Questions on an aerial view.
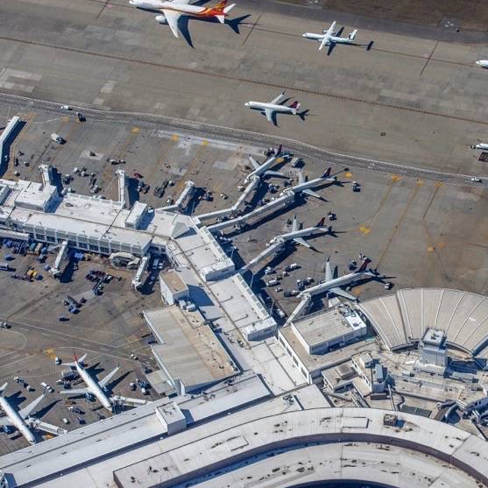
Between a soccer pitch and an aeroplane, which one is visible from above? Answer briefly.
aeroplane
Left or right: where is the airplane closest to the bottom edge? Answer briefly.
left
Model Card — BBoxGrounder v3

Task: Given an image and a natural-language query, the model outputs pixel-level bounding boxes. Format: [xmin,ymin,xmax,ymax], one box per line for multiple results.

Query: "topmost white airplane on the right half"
[300,22,355,51]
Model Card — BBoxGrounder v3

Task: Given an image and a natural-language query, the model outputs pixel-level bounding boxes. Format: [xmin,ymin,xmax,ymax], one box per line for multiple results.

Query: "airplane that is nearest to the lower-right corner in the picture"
[295,253,382,303]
